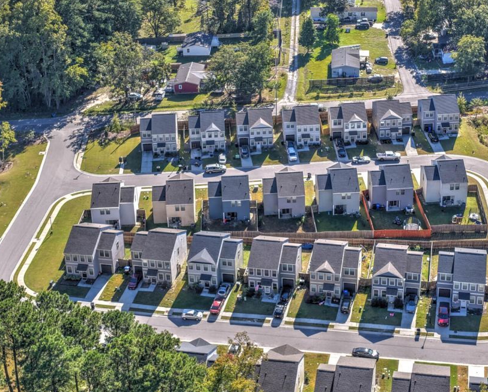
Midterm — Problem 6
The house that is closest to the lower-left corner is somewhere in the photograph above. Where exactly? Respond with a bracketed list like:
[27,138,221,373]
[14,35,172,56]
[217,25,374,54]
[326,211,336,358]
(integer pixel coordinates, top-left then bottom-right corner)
[59,223,124,279]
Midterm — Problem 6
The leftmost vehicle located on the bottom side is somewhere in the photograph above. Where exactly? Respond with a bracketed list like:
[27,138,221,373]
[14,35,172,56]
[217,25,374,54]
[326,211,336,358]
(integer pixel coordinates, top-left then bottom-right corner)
[124,267,142,291]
